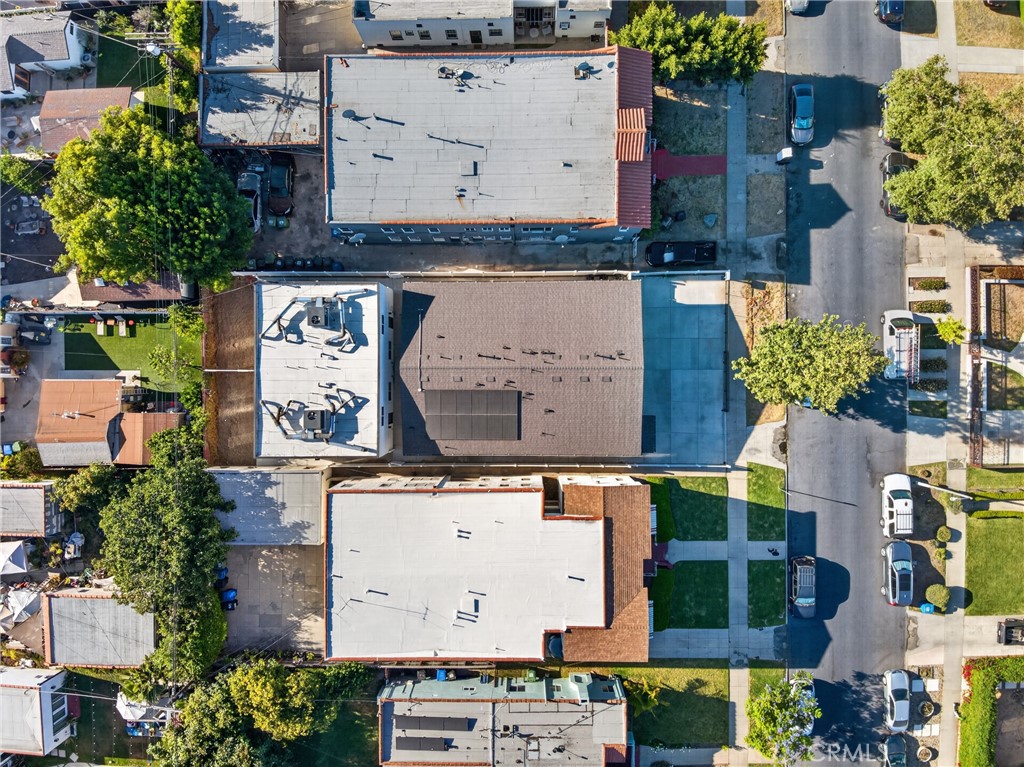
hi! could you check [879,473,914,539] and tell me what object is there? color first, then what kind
white car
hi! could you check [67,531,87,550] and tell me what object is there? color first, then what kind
blue umbrella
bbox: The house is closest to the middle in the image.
[398,278,646,460]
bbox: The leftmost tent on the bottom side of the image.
[0,538,45,573]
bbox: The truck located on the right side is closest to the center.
[645,238,718,268]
